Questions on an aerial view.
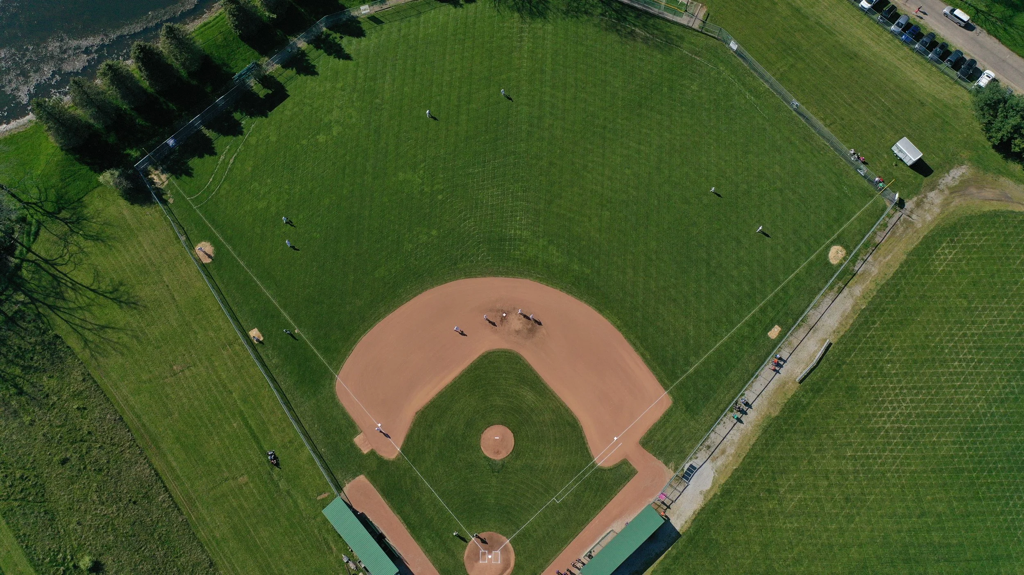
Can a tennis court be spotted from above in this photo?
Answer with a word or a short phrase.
No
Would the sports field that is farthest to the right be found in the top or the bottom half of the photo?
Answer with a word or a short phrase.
bottom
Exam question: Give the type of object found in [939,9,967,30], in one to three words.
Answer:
vehicle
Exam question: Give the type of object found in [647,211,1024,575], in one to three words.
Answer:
sports field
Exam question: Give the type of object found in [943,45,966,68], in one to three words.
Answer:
car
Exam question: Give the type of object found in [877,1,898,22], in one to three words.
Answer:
car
